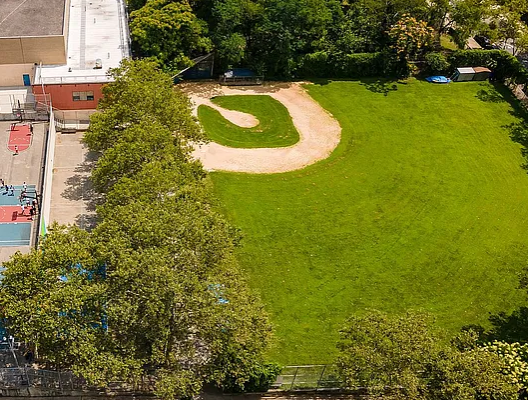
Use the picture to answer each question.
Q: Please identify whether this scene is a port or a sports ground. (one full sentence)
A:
It's a sports ground.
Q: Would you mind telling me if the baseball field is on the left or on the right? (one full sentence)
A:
The baseball field sits on the right side.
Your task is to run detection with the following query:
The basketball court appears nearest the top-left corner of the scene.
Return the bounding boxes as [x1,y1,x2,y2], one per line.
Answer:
[6,124,32,153]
